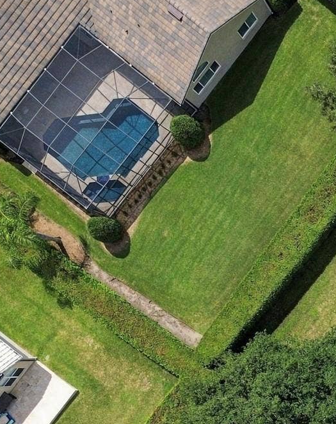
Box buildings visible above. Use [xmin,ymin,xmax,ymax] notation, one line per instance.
[0,333,35,397]
[0,0,274,127]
